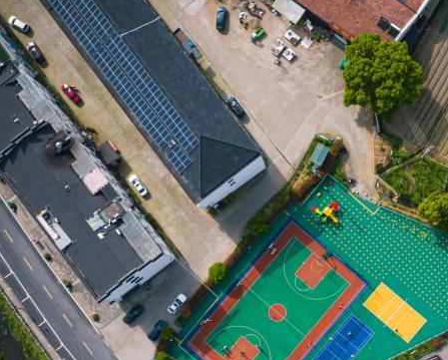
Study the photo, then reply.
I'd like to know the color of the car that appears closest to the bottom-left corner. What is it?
black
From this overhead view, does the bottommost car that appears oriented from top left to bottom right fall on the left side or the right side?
left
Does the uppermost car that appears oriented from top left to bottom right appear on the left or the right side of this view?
left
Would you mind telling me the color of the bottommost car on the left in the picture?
black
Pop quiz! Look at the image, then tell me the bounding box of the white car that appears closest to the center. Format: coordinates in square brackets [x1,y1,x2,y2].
[128,174,148,197]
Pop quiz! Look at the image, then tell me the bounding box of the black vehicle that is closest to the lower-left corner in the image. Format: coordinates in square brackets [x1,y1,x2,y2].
[122,303,145,324]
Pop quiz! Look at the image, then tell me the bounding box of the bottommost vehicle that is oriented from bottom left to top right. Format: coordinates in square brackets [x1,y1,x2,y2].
[146,319,169,340]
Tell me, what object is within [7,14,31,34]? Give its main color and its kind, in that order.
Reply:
white car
